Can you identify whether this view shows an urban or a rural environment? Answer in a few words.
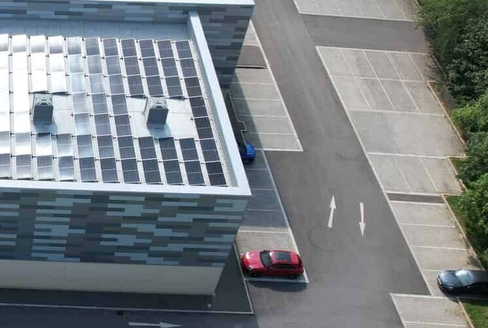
urban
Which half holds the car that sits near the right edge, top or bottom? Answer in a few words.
bottom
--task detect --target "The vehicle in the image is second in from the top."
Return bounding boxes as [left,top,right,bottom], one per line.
[240,250,308,279]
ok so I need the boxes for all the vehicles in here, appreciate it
[240,250,308,279]
[444,267,488,296]
[238,143,259,163]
